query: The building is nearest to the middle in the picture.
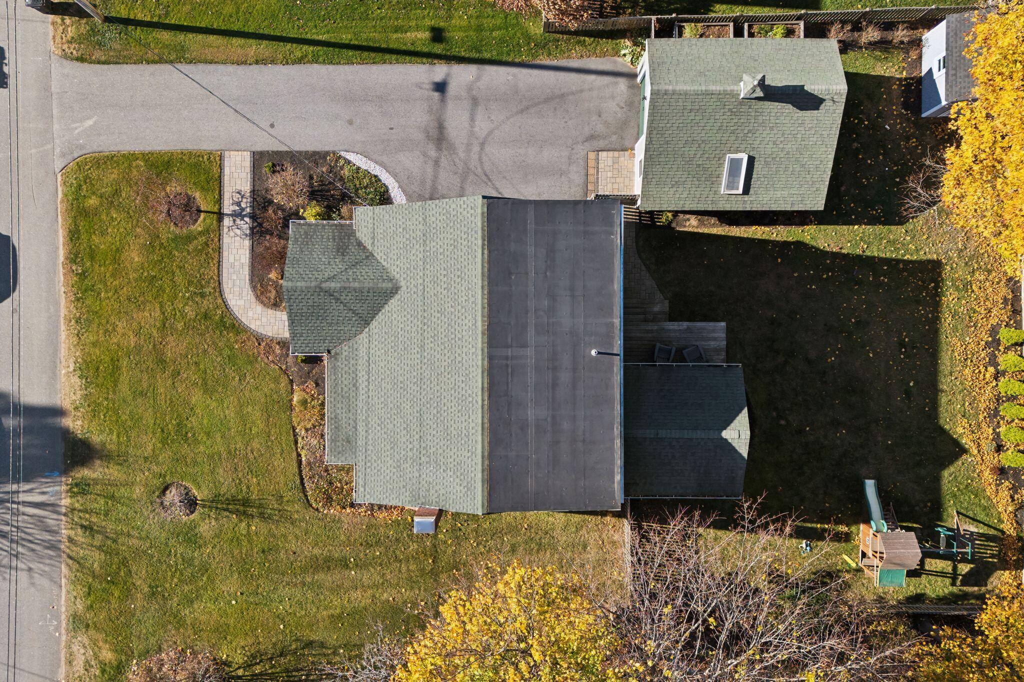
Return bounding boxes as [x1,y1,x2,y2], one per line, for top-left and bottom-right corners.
[283,196,750,530]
